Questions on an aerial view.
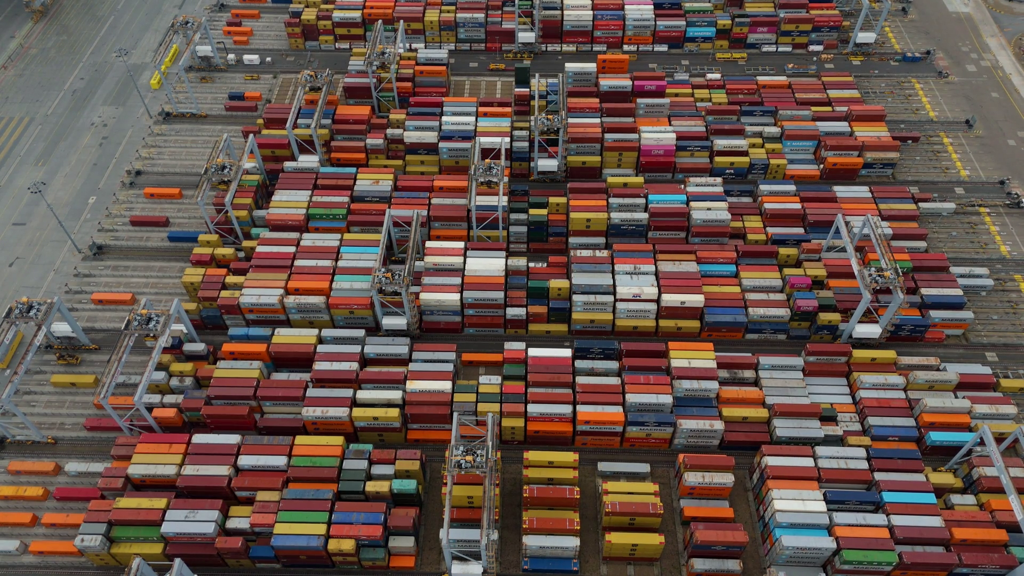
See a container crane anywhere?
Yes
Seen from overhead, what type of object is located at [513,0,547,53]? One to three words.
container crane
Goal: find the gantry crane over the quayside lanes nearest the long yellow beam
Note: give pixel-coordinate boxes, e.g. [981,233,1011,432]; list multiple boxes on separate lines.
[0,294,103,443]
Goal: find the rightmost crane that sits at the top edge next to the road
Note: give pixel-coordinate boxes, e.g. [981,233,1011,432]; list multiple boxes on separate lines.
[843,0,895,56]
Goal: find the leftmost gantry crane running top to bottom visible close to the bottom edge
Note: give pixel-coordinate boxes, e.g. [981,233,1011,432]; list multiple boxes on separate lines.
[442,411,504,576]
